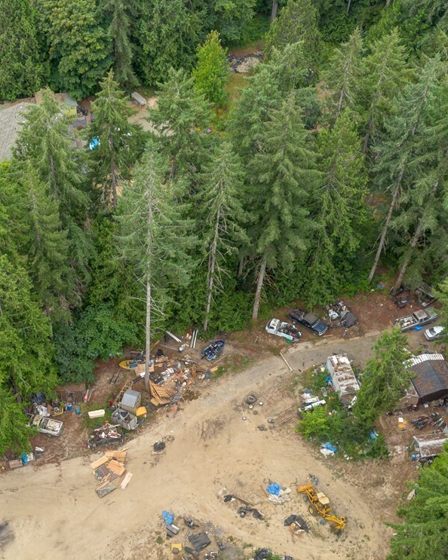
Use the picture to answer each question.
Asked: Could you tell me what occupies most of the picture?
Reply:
trees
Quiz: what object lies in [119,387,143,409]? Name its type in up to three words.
shed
